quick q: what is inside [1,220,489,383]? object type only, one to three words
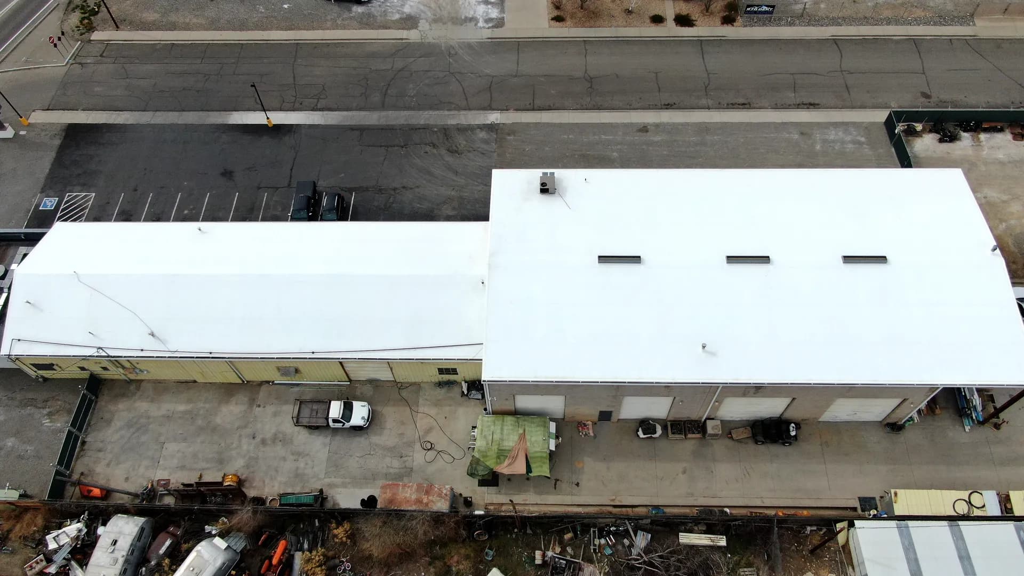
building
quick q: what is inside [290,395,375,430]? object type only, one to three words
truck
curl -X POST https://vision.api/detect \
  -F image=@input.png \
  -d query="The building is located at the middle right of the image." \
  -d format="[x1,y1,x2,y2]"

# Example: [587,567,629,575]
[481,168,1024,428]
